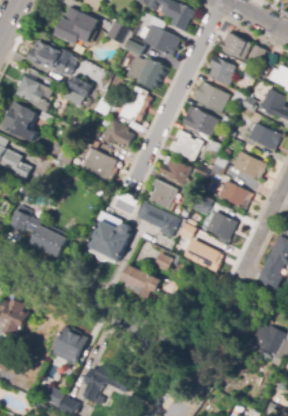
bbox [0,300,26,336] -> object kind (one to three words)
house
